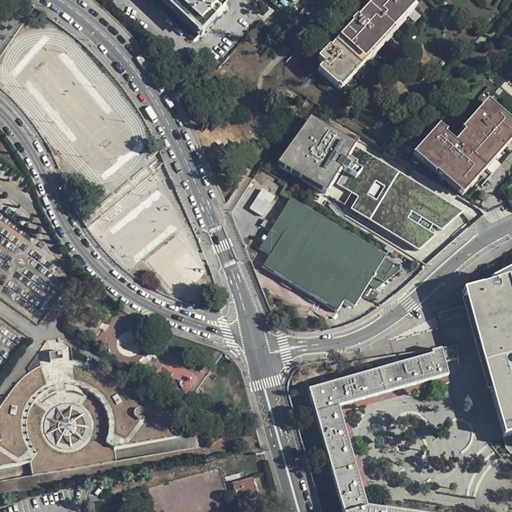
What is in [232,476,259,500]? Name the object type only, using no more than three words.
house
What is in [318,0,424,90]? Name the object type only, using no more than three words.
building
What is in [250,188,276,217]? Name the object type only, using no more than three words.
shed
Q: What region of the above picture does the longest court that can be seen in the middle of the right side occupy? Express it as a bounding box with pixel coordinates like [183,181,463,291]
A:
[369,259,402,290]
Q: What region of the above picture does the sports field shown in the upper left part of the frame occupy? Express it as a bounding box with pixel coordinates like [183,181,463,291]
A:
[1,32,147,183]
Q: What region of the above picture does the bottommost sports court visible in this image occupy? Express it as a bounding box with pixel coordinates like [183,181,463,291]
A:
[149,468,227,512]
